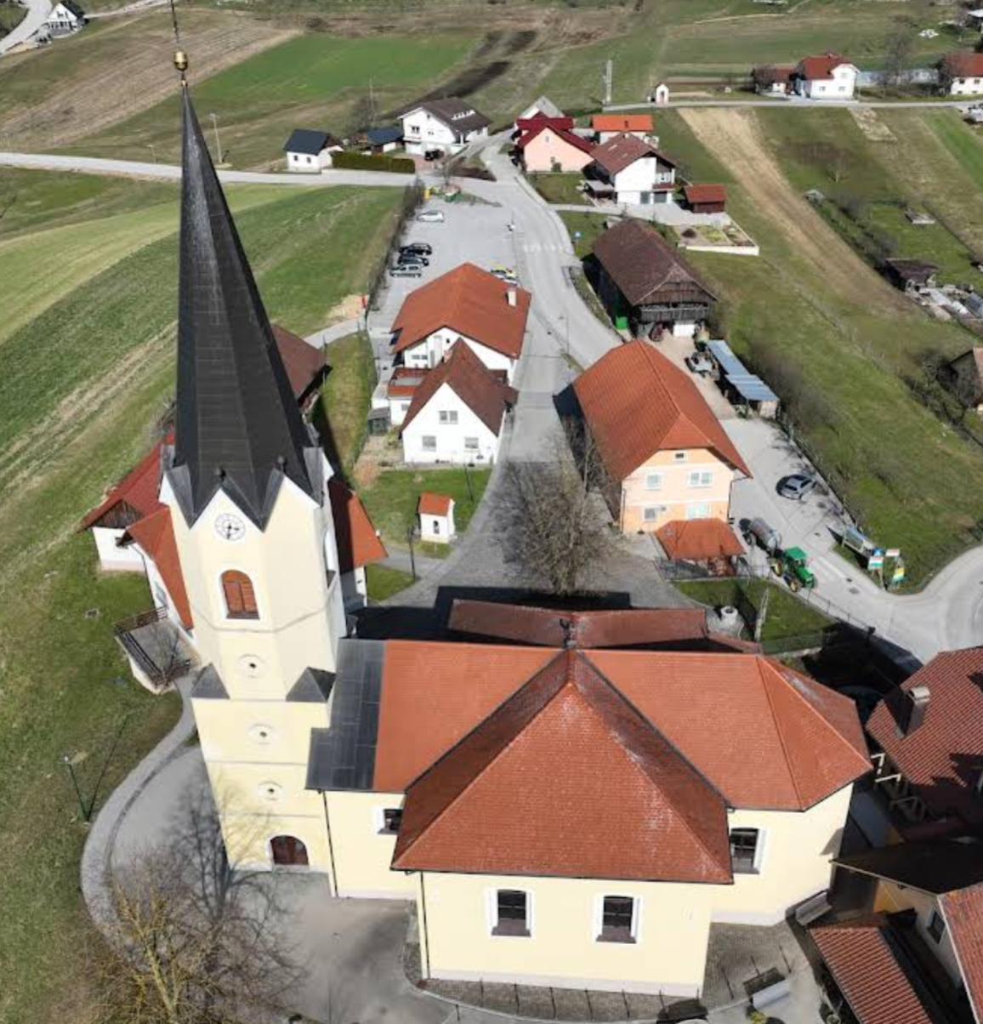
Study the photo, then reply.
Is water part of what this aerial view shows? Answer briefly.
No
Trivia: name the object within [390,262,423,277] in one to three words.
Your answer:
car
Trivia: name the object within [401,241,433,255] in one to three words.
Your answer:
car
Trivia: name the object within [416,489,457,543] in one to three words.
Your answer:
building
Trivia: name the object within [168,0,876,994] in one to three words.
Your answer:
church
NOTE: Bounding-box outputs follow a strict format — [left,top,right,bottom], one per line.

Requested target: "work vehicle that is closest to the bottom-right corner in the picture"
[773,542,819,595]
